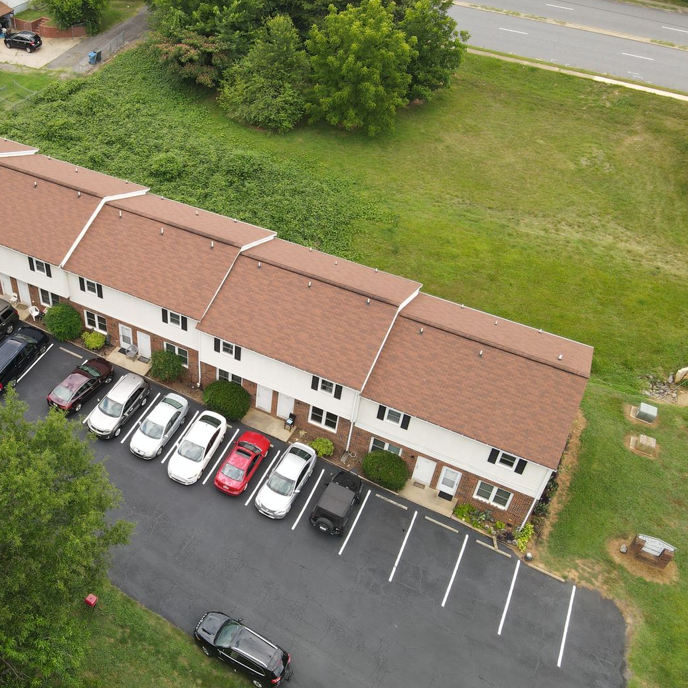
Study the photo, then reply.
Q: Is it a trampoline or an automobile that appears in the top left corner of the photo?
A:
automobile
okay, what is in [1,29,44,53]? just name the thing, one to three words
car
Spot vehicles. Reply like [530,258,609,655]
[189,606,296,688]
[167,410,229,487]
[1,29,44,53]
[213,428,272,498]
[310,469,366,543]
[85,371,152,442]
[255,443,320,523]
[0,323,52,390]
[128,393,190,463]
[47,356,115,419]
[0,302,20,338]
